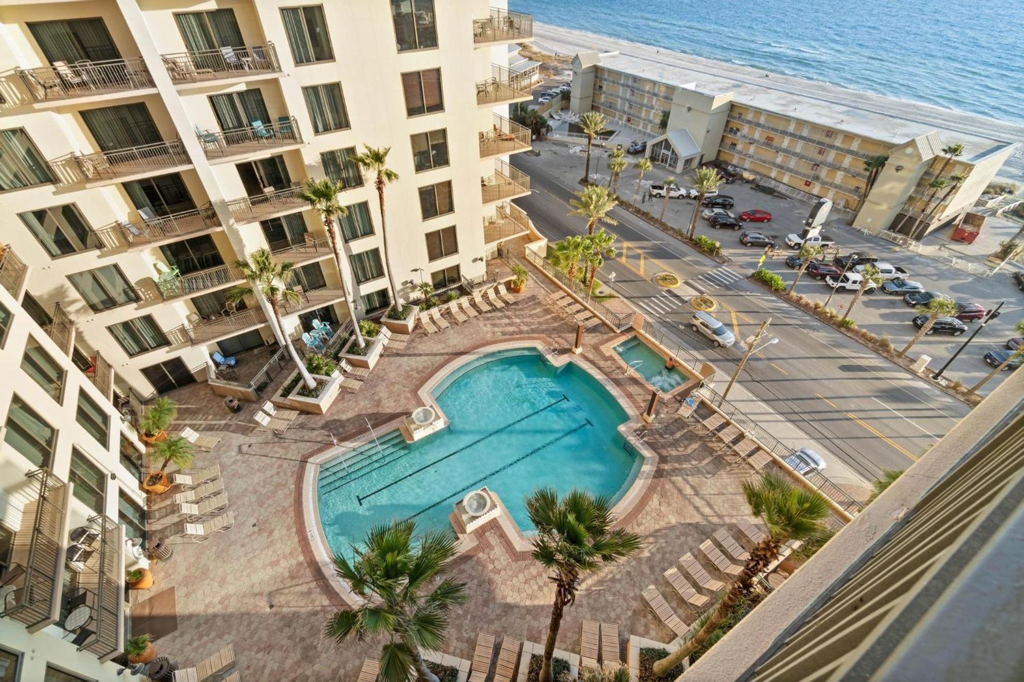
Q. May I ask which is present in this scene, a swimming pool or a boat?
swimming pool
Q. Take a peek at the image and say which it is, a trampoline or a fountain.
fountain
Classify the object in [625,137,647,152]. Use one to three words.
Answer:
car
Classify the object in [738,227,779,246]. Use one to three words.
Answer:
car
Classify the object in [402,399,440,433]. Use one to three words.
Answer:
fountain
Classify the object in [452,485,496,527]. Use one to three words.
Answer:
fountain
